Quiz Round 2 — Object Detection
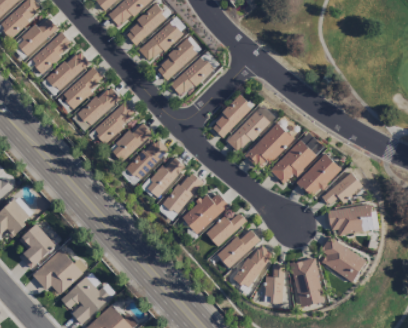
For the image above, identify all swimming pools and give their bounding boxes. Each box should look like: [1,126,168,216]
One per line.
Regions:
[126,302,145,322]
[21,186,36,207]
